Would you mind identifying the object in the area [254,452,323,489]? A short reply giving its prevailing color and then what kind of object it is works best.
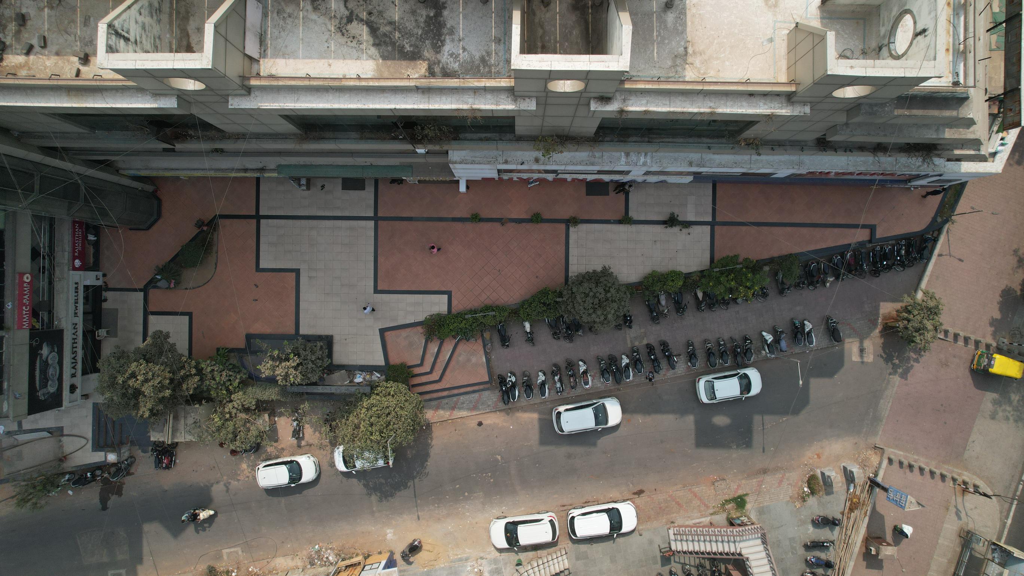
white car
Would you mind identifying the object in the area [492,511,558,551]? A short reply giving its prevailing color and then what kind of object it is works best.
white car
